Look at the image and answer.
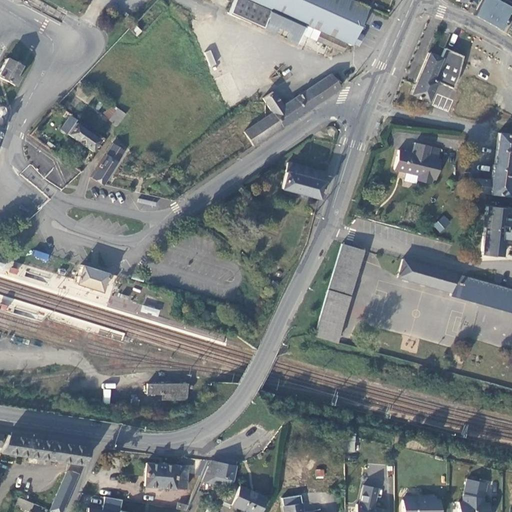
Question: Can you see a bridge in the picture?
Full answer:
Yes, I can see a bridge in this picture.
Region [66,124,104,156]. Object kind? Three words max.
house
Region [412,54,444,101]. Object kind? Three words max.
house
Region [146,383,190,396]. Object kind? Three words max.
shed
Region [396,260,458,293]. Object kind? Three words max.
building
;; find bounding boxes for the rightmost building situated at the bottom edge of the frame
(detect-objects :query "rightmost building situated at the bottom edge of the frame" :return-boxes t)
[460,479,494,512]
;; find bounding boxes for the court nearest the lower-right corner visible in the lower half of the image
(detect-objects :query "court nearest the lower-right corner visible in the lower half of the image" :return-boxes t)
[371,282,464,343]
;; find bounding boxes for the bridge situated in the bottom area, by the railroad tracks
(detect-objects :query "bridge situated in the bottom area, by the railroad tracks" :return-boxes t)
[228,334,285,406]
